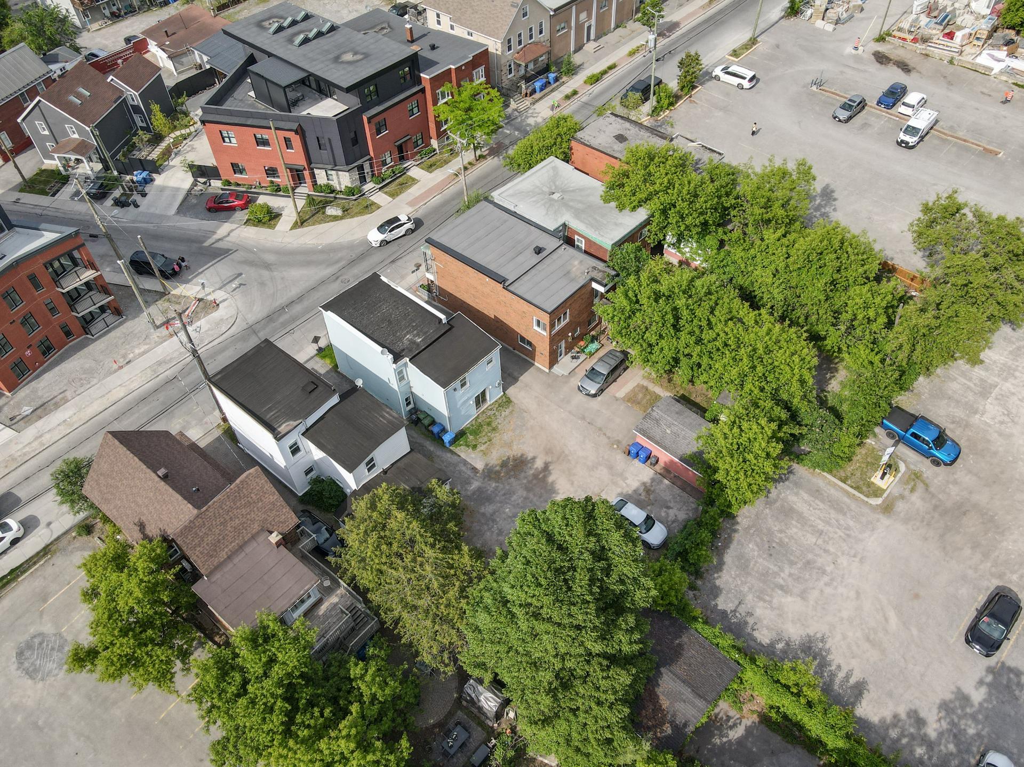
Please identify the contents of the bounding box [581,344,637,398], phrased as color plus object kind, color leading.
gray car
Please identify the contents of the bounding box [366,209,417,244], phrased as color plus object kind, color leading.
white car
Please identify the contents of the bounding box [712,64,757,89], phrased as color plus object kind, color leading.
white car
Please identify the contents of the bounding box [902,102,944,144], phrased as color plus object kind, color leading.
white van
